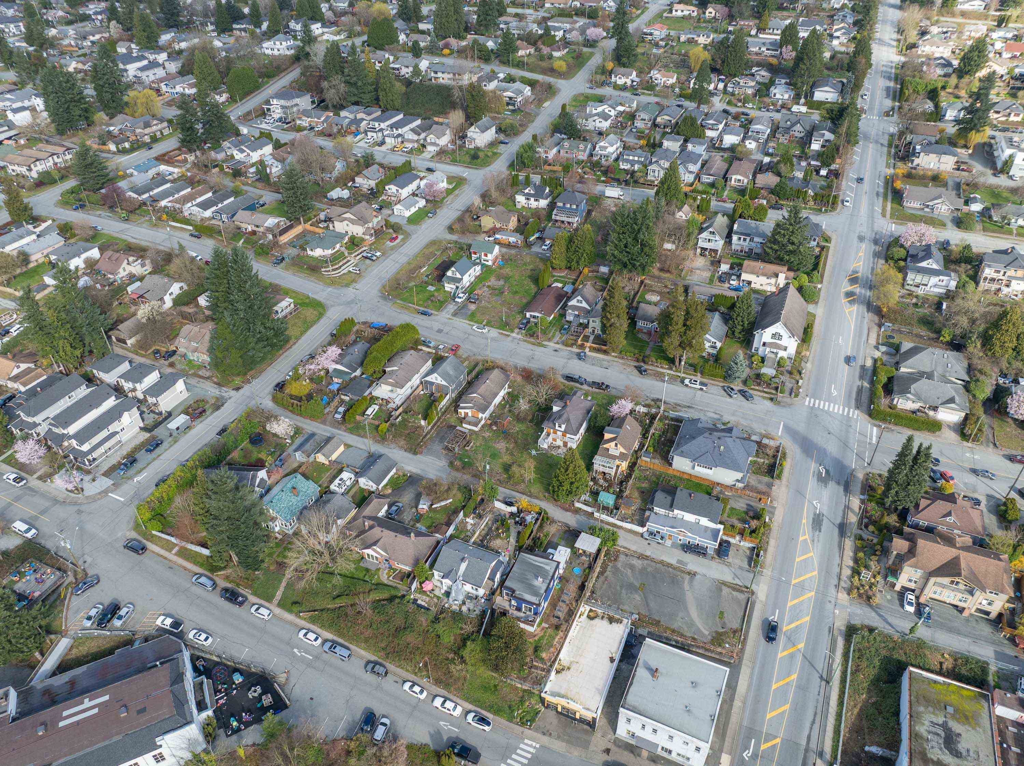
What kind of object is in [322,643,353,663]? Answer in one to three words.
vehicle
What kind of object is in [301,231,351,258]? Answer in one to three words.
house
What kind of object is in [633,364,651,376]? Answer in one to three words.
vehicle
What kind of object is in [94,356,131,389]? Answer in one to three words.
building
